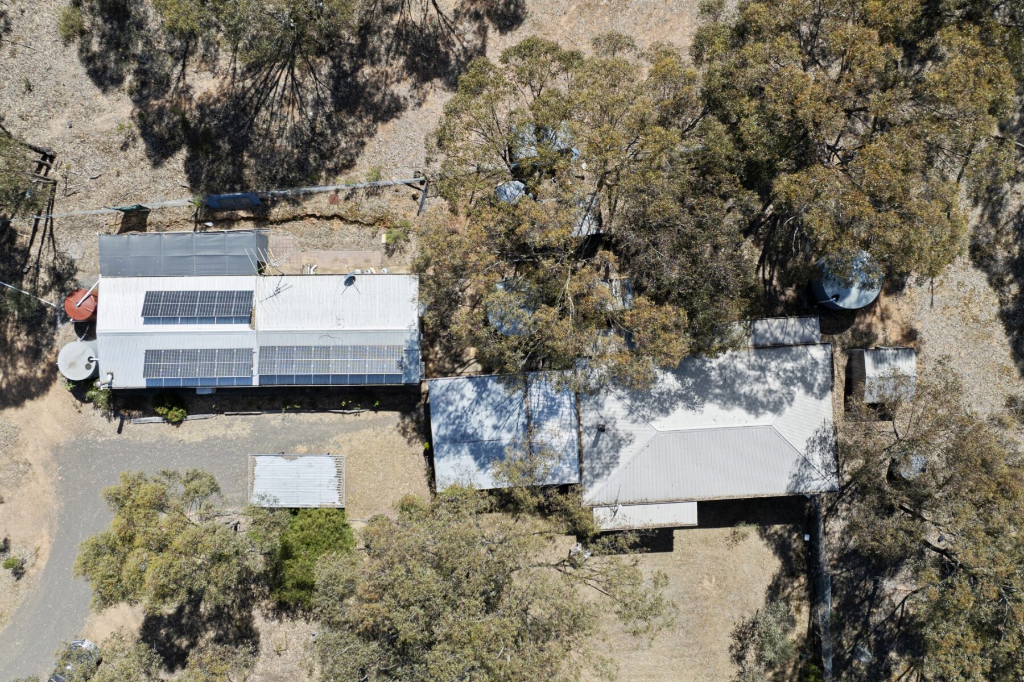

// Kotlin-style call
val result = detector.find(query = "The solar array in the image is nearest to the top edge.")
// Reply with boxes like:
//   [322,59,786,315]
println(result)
[141,291,254,316]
